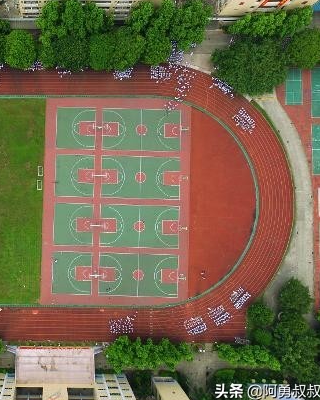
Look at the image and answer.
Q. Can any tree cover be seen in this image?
Yes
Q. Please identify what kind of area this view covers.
sports ground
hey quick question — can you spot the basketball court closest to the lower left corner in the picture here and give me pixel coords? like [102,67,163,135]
[52,252,92,295]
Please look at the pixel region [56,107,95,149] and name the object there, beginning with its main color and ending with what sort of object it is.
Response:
green basketball court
